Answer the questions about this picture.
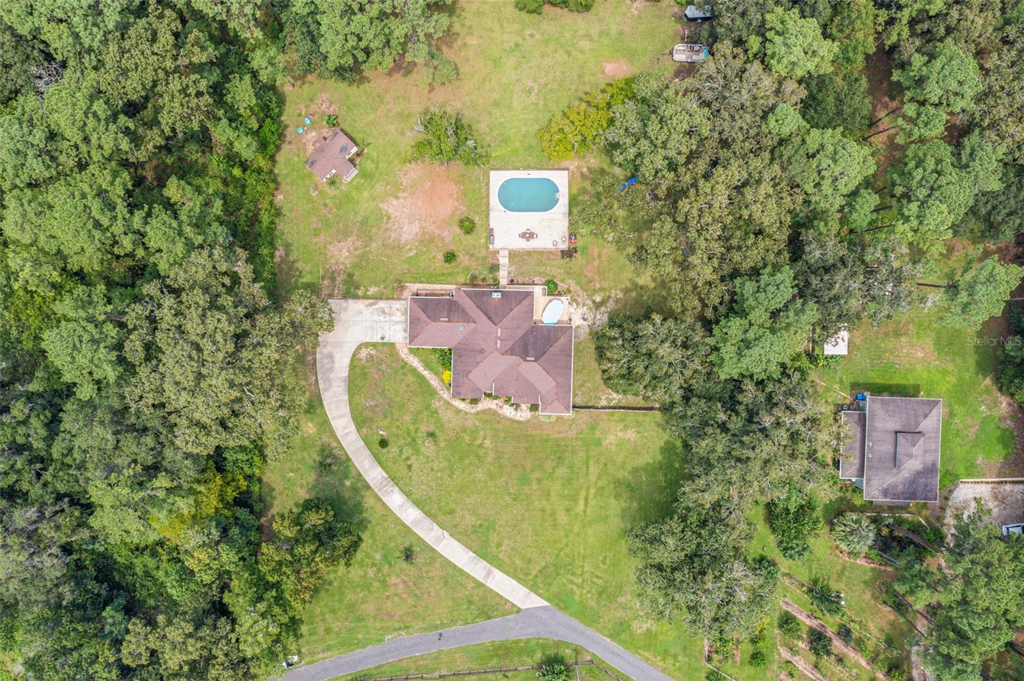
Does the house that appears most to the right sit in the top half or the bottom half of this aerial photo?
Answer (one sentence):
You can find the house that appears most to the right in the bottom half.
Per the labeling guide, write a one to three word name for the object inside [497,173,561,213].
swimming pool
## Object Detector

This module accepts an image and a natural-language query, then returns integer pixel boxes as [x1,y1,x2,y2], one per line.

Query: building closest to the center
[408,288,574,415]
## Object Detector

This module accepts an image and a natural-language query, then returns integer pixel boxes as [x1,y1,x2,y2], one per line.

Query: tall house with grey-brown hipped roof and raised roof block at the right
[833,396,943,506]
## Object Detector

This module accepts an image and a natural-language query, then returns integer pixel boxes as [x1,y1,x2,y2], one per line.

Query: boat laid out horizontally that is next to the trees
[673,42,713,61]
